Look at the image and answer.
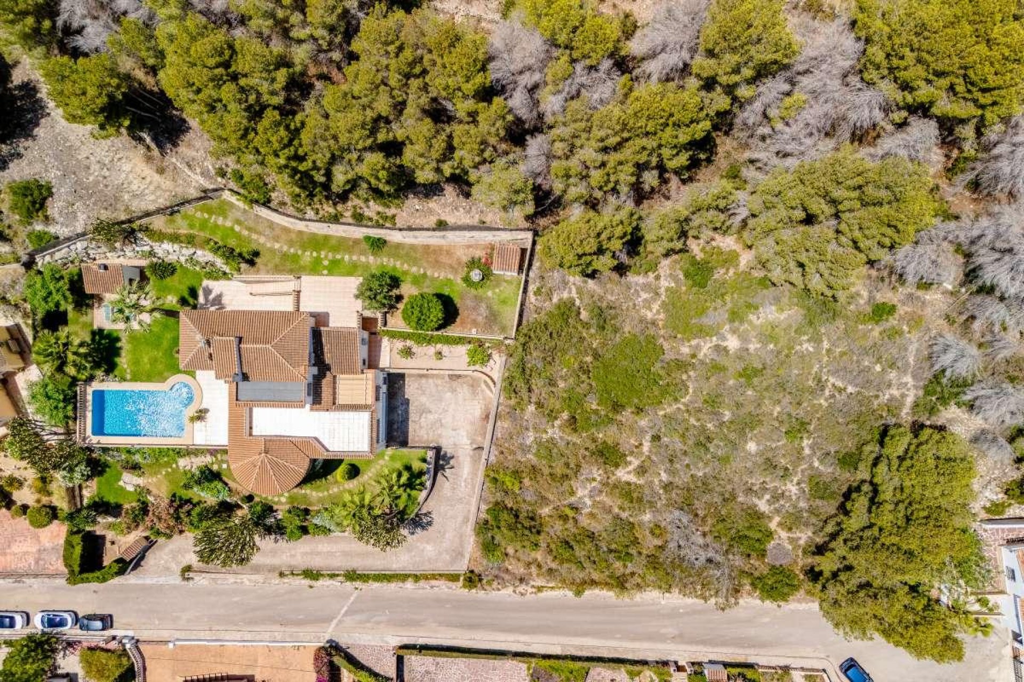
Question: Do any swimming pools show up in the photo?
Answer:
Yes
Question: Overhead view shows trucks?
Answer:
No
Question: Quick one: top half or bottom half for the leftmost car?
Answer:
bottom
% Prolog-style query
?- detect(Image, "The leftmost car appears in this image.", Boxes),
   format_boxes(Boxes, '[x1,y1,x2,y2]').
[0,608,27,631]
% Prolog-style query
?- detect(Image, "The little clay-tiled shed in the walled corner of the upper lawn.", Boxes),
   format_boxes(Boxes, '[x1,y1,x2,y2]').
[491,243,522,276]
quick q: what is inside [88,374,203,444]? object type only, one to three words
swimming pool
